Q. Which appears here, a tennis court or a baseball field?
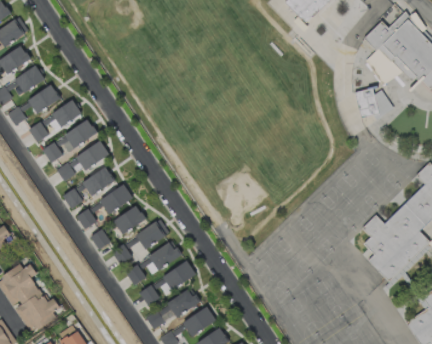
baseball field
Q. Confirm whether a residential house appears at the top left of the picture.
Yes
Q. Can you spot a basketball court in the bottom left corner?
No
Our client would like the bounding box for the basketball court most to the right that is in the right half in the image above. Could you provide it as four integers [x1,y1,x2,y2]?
[361,143,406,188]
